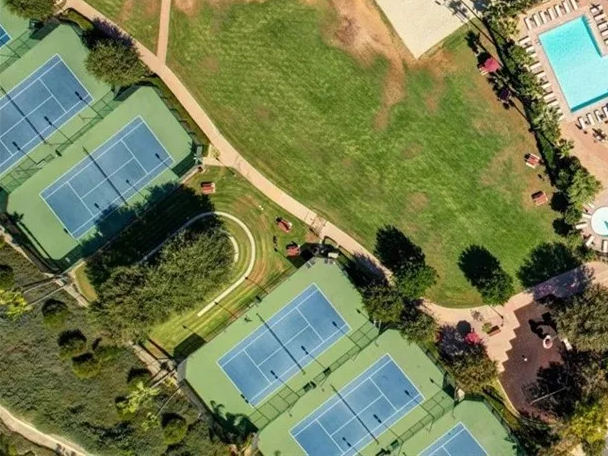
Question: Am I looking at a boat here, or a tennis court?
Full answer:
Looking from above, you can make out a tennis court.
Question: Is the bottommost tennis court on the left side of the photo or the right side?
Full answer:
The bottommost tennis court appears in the right half of the scene.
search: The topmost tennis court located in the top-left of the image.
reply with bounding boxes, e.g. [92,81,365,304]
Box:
[0,0,57,72]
